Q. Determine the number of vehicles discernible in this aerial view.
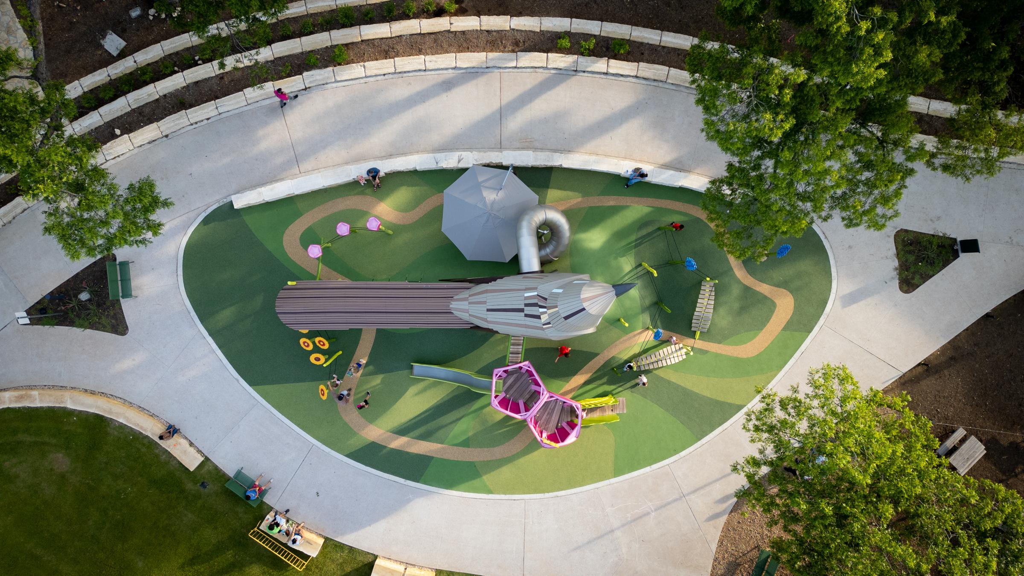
0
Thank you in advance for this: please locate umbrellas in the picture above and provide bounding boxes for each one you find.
[442,163,538,262]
